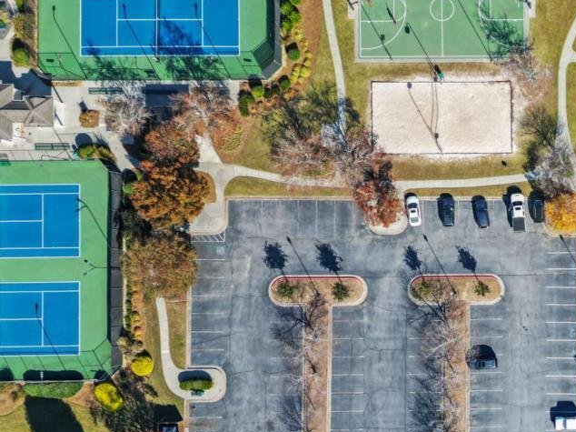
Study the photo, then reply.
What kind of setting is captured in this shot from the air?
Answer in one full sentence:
The area seen from above is a sports ground.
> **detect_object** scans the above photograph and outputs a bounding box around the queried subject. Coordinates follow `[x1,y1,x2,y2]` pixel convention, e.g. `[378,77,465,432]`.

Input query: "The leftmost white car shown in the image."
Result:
[405,194,421,227]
